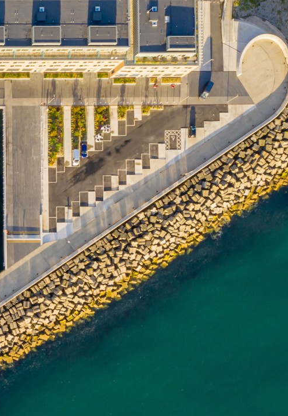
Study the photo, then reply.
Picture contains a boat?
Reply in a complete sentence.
No, there's no boat here.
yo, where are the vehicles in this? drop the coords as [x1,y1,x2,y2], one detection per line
[79,143,88,156]
[188,125,196,139]
[71,150,81,167]
[198,80,213,100]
